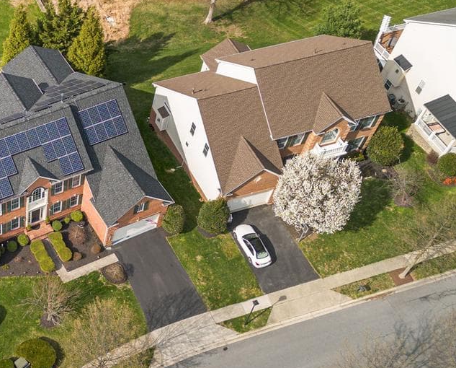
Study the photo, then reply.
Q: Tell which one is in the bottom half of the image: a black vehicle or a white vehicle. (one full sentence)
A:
What appears in the bottom half of the image is a white vehicle.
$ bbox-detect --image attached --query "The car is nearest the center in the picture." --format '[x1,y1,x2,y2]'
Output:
[233,223,275,270]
